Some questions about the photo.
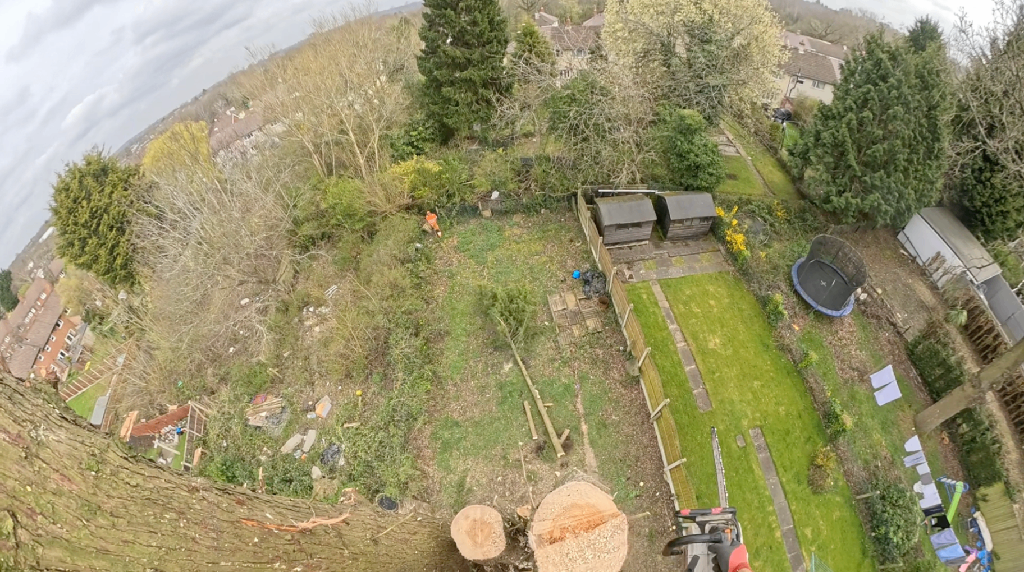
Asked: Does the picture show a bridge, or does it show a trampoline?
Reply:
trampoline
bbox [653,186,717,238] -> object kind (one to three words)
shed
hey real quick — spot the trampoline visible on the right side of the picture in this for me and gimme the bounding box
[785,232,874,320]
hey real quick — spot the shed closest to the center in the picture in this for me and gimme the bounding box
[592,192,659,244]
